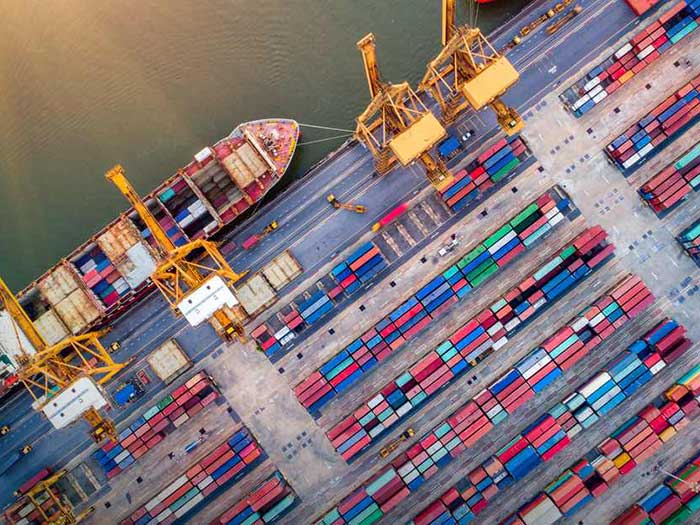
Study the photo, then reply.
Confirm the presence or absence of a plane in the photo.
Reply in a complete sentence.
No, this view has no plane in it.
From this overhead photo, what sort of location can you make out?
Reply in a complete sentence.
The area seen from above is a port.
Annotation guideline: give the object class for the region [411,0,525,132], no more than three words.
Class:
container crane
